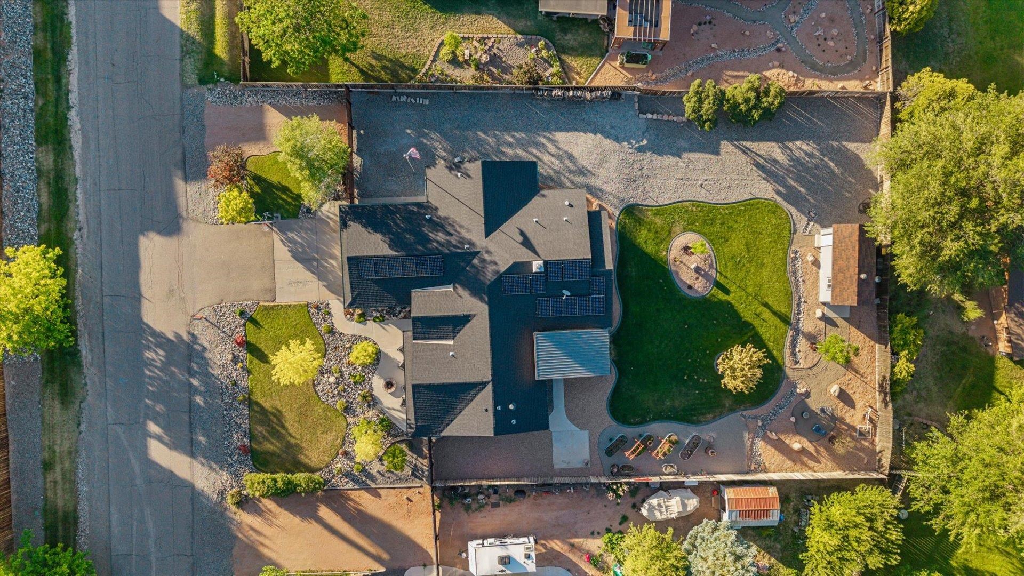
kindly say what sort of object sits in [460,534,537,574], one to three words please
trailer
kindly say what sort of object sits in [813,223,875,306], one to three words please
shed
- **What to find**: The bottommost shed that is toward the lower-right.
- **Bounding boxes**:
[718,481,782,528]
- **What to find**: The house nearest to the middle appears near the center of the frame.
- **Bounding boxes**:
[340,157,615,439]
